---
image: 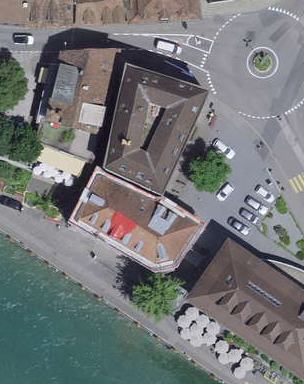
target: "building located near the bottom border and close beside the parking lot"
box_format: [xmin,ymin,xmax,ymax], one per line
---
[188,238,304,381]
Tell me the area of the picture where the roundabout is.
top right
